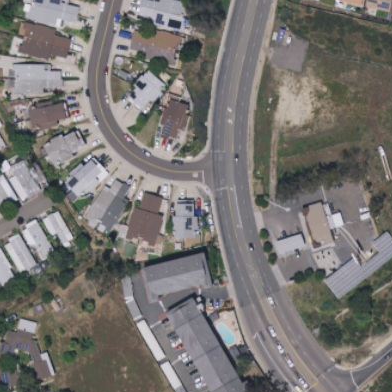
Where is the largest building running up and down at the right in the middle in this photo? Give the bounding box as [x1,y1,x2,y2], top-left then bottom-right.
[304,202,334,250]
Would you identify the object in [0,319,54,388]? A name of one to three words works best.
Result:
house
